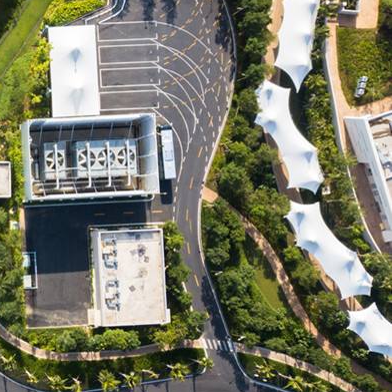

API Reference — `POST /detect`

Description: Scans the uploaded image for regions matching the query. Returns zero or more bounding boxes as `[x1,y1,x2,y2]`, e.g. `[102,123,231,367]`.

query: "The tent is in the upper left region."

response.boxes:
[43,26,100,117]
